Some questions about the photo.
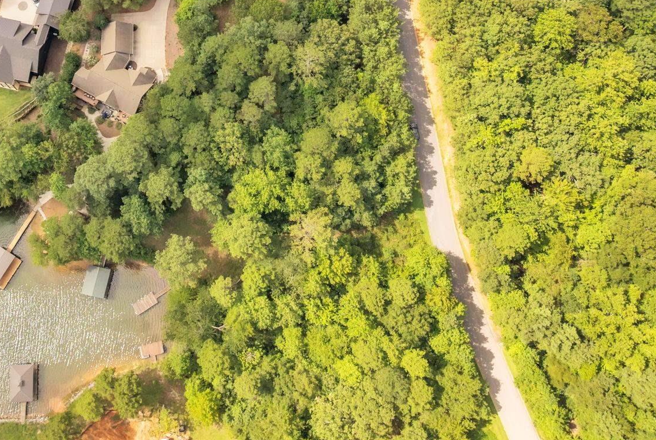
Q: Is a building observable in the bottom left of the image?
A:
Yes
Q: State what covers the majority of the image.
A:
trees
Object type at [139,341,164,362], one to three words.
pier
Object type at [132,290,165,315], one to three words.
pier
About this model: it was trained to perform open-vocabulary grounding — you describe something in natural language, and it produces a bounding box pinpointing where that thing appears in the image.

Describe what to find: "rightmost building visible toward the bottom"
[82,261,115,299]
